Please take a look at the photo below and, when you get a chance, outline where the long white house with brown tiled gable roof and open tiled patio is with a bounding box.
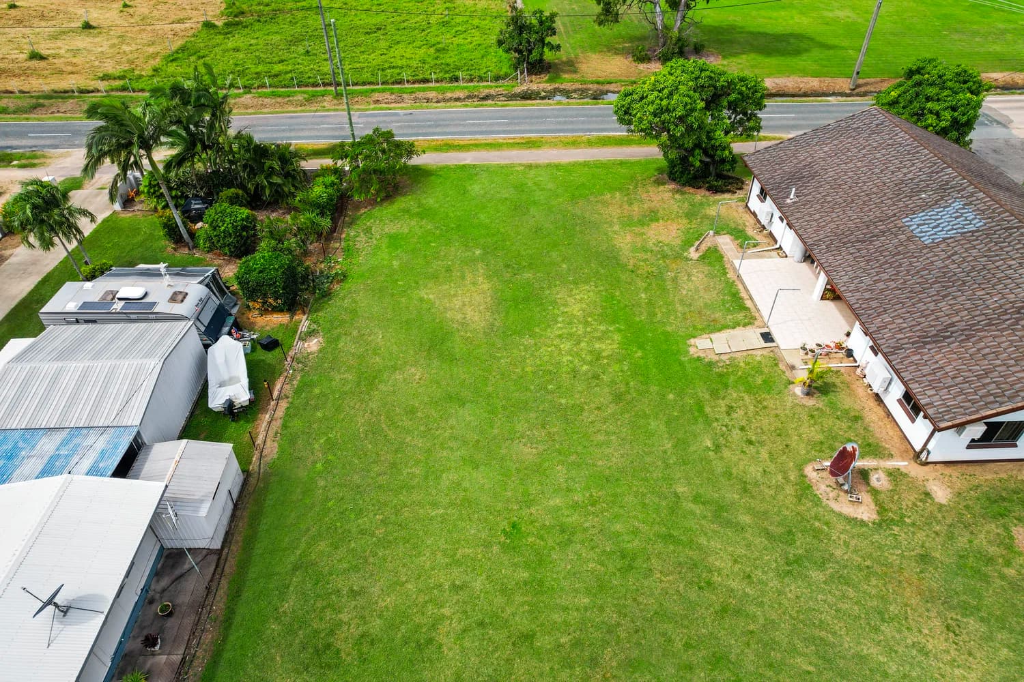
[735,105,1024,458]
